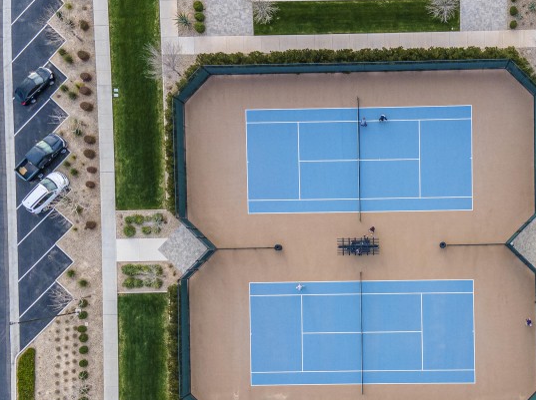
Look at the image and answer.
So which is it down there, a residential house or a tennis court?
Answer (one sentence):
It is a tennis court that can be seen here.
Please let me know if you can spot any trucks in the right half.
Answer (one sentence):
No, I see no truck in the right half.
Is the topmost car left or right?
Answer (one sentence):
It is on the left.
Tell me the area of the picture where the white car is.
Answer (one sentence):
You can find the white car in the left area of the picture.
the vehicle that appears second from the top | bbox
[14,130,69,183]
